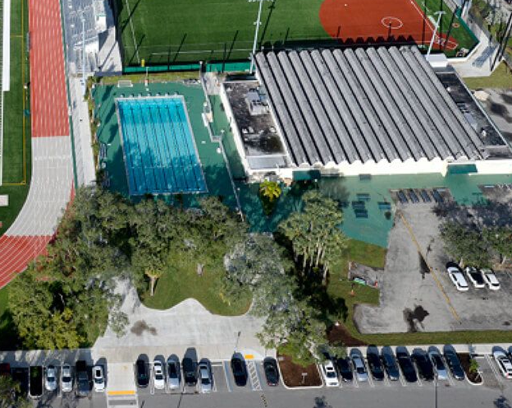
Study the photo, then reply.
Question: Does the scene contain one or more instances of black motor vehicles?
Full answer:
Yes, the photo shows a black motor vehicle.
